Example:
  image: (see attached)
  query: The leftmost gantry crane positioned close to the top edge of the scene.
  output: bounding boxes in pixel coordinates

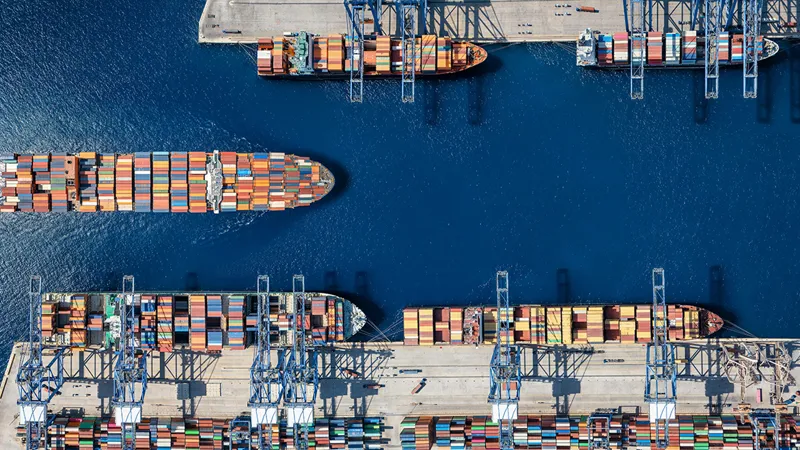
[341,0,385,105]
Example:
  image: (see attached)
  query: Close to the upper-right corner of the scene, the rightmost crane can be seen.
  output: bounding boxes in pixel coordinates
[720,0,765,105]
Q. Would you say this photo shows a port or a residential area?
port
